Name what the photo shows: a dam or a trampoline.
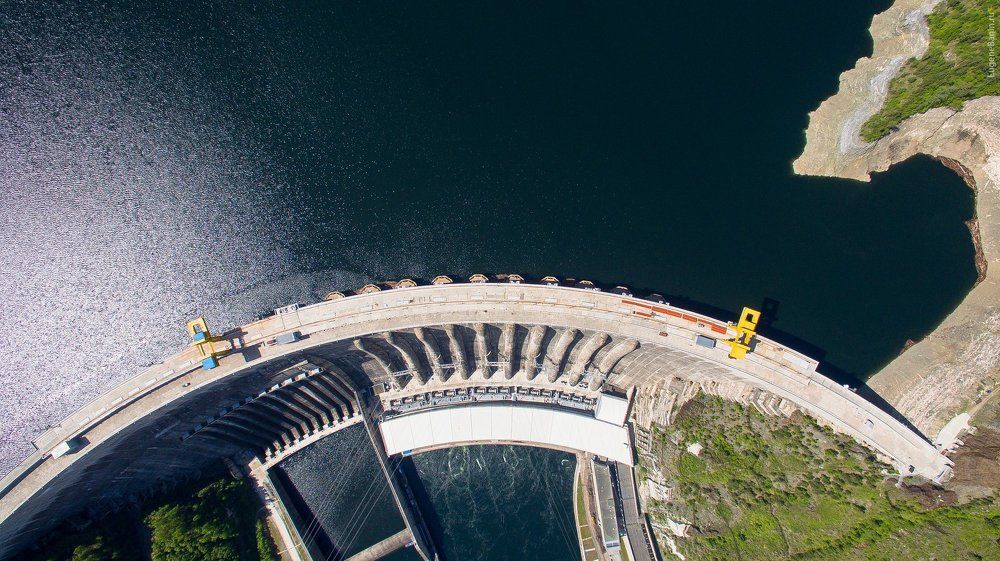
dam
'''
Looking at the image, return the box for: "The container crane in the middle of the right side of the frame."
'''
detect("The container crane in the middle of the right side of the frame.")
[720,305,760,360]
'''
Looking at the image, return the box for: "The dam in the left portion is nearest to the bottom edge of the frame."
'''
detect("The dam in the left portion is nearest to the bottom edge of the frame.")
[349,529,411,561]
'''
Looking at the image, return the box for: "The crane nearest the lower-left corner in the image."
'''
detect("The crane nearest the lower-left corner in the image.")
[191,316,234,370]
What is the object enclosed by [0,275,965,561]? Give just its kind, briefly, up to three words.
dam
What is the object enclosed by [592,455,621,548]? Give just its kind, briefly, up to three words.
building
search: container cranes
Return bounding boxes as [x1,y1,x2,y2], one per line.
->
[191,316,234,370]
[720,305,760,360]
